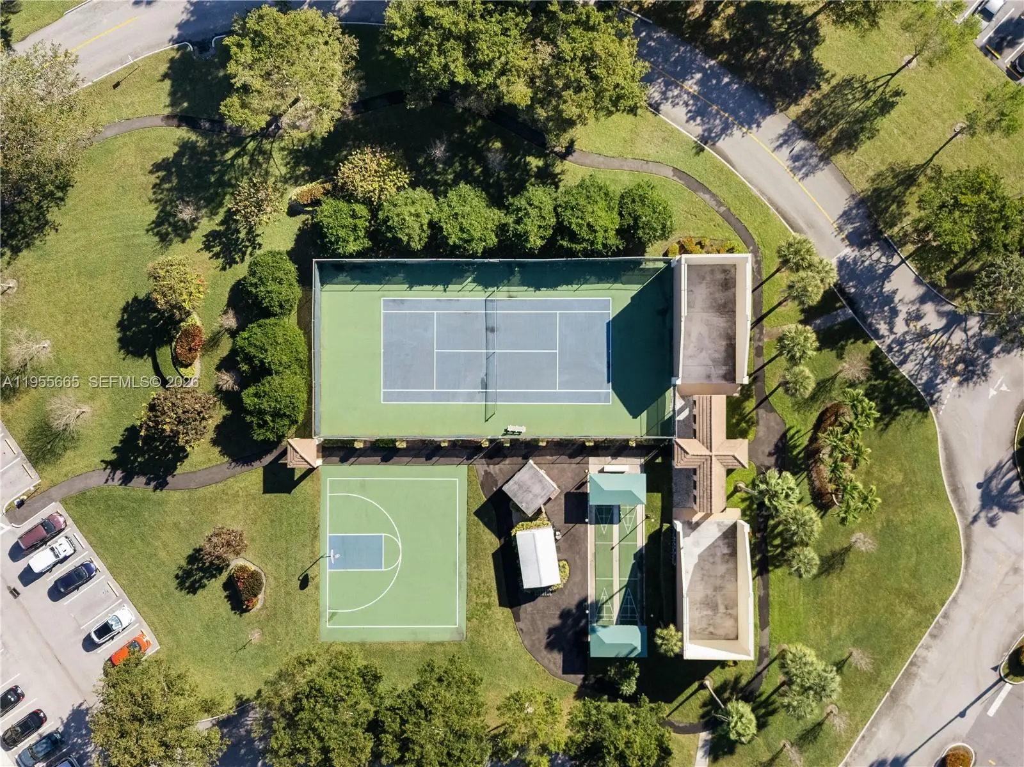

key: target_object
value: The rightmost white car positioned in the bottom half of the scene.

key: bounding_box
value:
[87,608,133,647]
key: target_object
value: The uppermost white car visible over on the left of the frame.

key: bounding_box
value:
[22,537,74,577]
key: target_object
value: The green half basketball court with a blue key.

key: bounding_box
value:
[321,466,467,641]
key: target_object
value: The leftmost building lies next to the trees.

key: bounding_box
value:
[289,438,325,468]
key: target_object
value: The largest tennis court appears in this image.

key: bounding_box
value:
[321,263,672,436]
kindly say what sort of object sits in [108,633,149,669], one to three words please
car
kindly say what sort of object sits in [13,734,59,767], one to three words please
car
